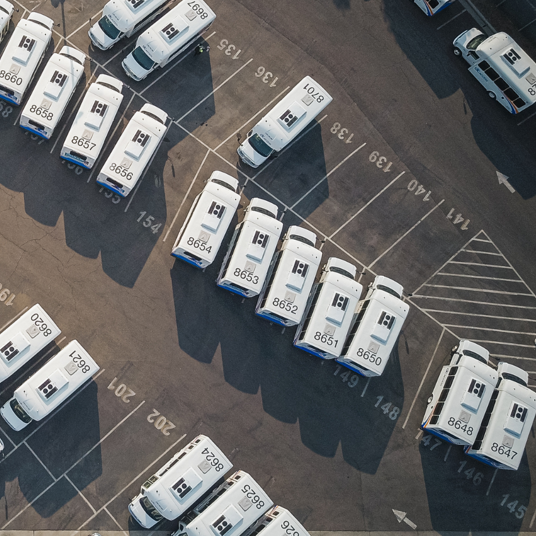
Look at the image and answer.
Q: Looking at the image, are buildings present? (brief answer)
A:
No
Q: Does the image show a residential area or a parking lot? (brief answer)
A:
parking lot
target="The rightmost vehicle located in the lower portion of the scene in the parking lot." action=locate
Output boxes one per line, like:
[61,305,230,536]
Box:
[461,363,536,470]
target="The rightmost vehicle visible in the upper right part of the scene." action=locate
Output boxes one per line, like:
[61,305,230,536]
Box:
[453,21,536,117]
